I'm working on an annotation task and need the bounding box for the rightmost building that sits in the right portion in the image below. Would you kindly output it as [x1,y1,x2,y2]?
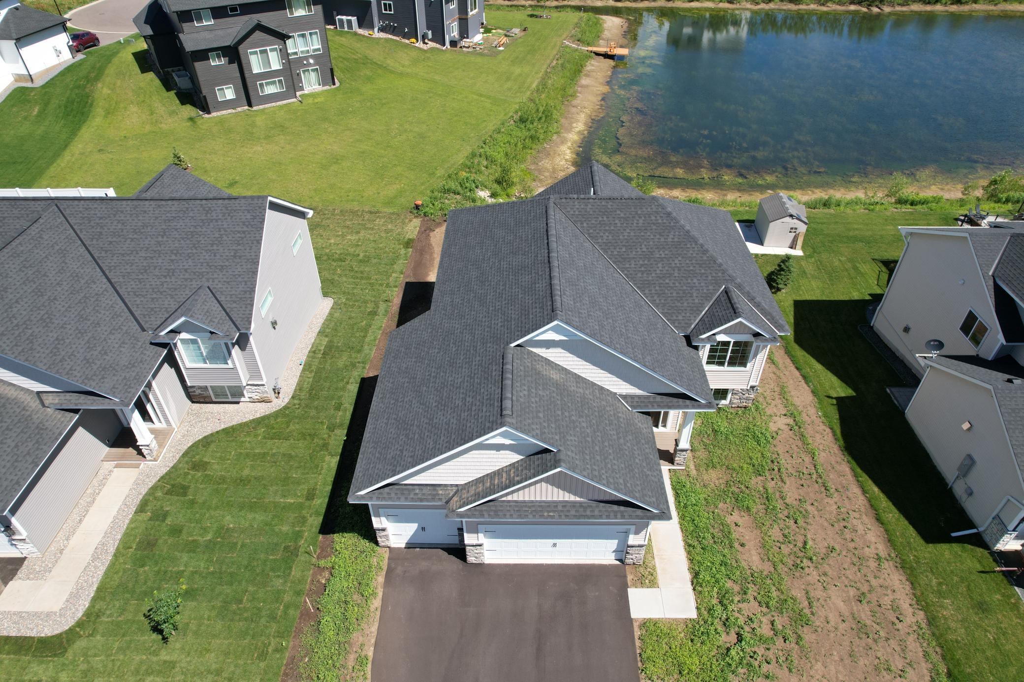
[871,209,1024,562]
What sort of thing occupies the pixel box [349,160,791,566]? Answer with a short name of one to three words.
house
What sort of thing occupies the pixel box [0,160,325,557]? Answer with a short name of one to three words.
house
